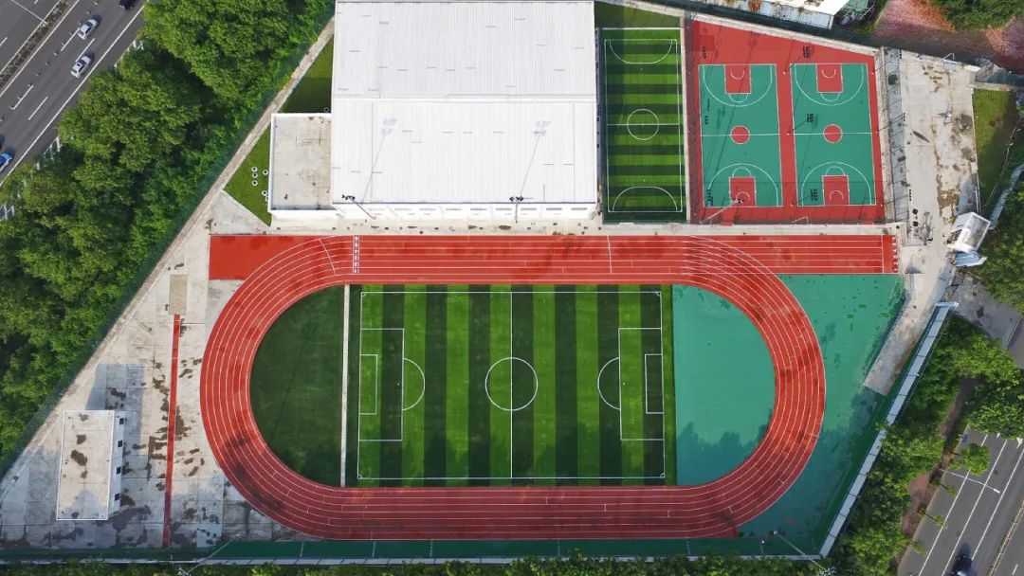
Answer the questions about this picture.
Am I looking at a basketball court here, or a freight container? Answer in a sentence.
It is a basketball court that can be seen here.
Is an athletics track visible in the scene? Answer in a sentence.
Yes, there's an athletics track here.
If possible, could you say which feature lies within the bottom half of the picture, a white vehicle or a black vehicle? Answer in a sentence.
You can see a black vehicle within the bottom half of the picture.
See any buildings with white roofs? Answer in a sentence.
Yes, the picture does show a building with a white roof.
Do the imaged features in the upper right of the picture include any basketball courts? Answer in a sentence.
Yes, a basketball court appears in the upper right of the picture.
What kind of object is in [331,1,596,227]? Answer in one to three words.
building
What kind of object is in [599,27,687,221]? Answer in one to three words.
sports field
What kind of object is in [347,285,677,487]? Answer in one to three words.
sports field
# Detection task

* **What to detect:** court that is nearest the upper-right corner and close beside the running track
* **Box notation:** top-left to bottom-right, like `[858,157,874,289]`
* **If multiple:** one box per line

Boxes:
[790,62,876,206]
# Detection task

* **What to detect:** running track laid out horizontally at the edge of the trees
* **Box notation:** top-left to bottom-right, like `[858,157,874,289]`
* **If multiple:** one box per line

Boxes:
[199,234,900,541]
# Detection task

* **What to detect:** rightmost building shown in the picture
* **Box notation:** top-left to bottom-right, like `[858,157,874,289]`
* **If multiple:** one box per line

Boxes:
[941,213,990,268]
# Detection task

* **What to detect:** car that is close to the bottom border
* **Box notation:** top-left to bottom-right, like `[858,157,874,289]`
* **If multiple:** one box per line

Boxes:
[953,551,976,576]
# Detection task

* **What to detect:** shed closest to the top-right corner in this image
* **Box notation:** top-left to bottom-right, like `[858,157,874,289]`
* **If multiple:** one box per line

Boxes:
[844,0,887,33]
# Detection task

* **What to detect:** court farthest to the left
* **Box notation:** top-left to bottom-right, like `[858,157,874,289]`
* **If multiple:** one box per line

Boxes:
[698,63,784,207]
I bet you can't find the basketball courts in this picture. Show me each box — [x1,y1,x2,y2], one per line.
[698,63,784,207]
[790,62,876,206]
